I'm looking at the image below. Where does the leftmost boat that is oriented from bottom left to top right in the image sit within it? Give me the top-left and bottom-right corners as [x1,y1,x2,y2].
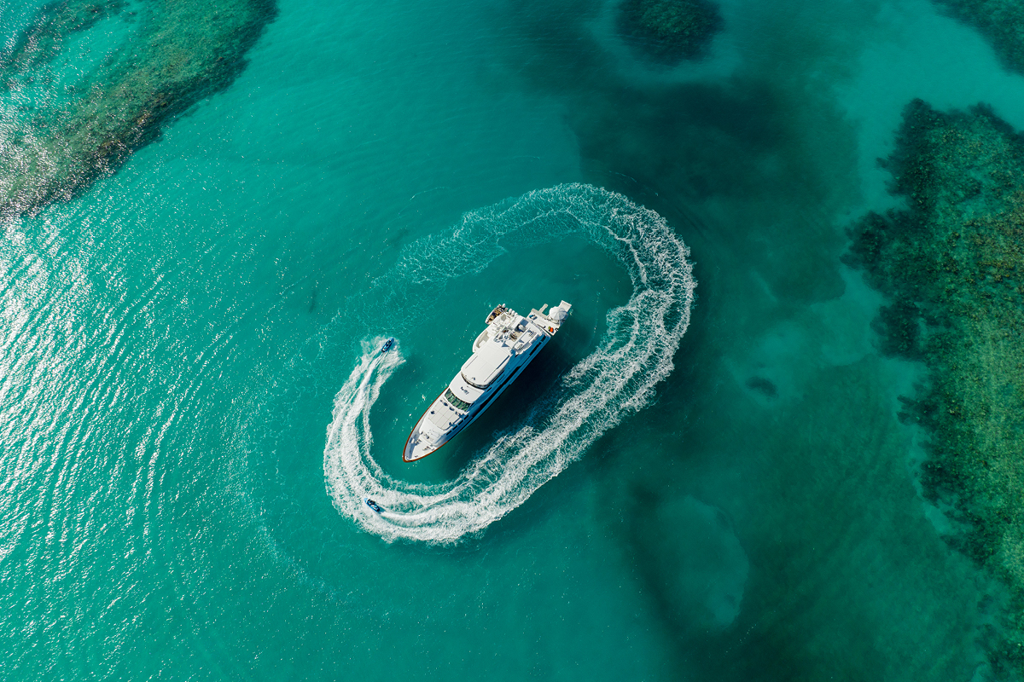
[379,336,394,353]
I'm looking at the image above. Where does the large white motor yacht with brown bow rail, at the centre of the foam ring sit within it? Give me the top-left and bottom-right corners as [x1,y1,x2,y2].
[402,304,558,467]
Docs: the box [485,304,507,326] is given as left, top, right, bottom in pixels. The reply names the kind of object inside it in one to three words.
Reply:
boat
